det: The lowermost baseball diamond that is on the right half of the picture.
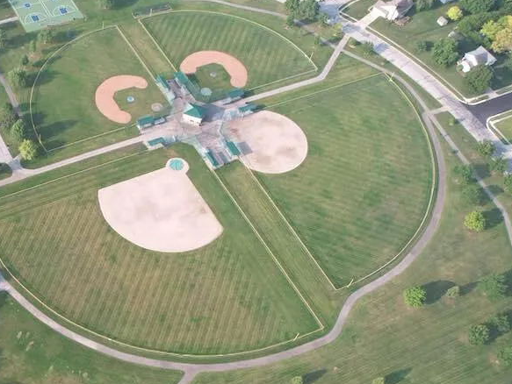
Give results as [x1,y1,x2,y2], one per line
[220,72,435,289]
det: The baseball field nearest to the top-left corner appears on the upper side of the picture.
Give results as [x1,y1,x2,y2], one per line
[33,25,174,151]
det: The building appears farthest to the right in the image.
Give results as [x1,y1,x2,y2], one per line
[449,46,493,77]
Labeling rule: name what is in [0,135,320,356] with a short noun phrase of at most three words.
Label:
baseball field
